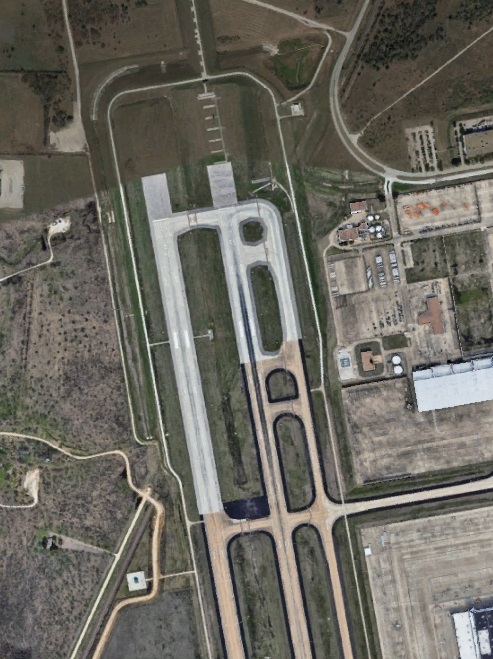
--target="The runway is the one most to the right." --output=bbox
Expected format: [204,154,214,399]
[218,208,312,659]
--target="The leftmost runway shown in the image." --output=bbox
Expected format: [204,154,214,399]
[152,218,244,659]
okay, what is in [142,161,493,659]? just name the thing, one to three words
airport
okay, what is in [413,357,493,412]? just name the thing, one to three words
hangar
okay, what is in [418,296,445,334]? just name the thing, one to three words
building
